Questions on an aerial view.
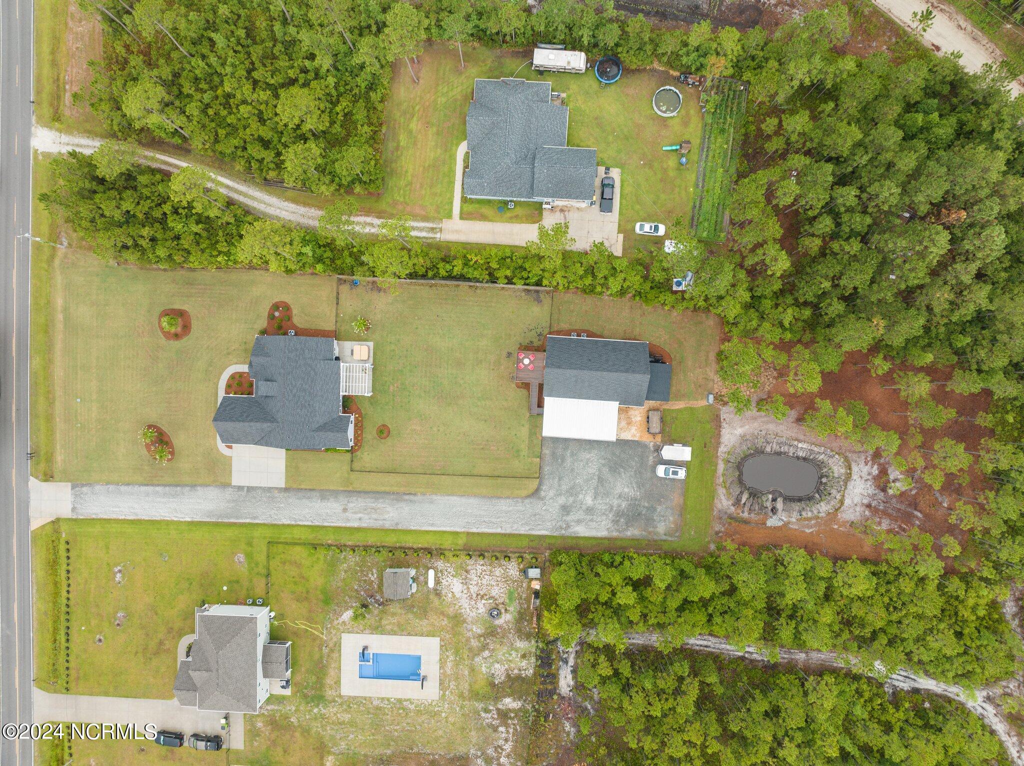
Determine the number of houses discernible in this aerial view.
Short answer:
4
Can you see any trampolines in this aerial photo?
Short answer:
Yes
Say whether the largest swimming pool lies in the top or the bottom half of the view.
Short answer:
bottom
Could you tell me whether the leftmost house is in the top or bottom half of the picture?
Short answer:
bottom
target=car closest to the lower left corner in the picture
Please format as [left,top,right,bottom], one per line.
[155,729,187,747]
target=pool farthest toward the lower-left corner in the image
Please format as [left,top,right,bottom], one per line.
[341,634,440,700]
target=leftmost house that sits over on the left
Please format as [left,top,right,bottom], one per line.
[174,606,269,716]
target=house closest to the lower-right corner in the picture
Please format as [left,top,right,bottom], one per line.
[542,335,672,442]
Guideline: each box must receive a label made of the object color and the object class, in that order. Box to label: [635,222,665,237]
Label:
white car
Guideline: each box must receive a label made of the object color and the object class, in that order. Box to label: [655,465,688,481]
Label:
white car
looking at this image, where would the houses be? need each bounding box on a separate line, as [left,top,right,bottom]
[212,333,355,450]
[174,606,269,716]
[463,76,598,205]
[542,335,672,442]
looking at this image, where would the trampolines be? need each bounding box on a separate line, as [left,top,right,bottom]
[594,51,624,91]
